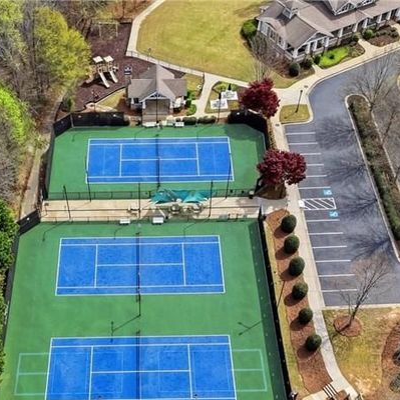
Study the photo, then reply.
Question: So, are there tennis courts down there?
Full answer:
Yes, the picture does show a tennis court.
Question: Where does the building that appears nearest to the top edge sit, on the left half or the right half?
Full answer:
The building that appears nearest to the top edge appears in the right half of the scene.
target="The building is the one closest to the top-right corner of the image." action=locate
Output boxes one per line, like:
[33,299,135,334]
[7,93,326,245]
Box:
[247,0,400,63]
